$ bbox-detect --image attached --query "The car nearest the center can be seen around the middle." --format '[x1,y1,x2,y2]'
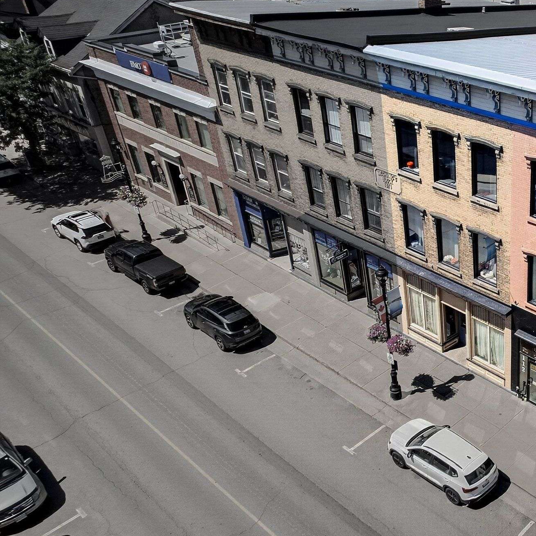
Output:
[182,296,263,352]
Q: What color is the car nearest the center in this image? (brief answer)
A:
black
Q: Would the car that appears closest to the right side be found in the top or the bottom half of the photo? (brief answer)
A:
bottom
